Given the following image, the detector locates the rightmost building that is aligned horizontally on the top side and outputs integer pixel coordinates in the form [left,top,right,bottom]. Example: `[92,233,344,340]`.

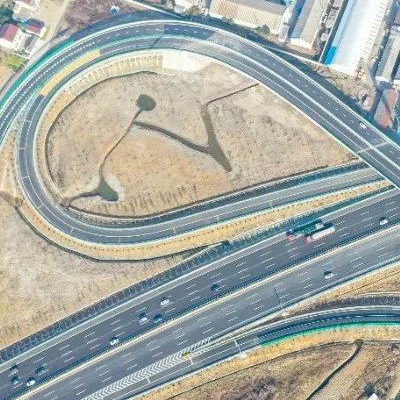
[212,0,288,35]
